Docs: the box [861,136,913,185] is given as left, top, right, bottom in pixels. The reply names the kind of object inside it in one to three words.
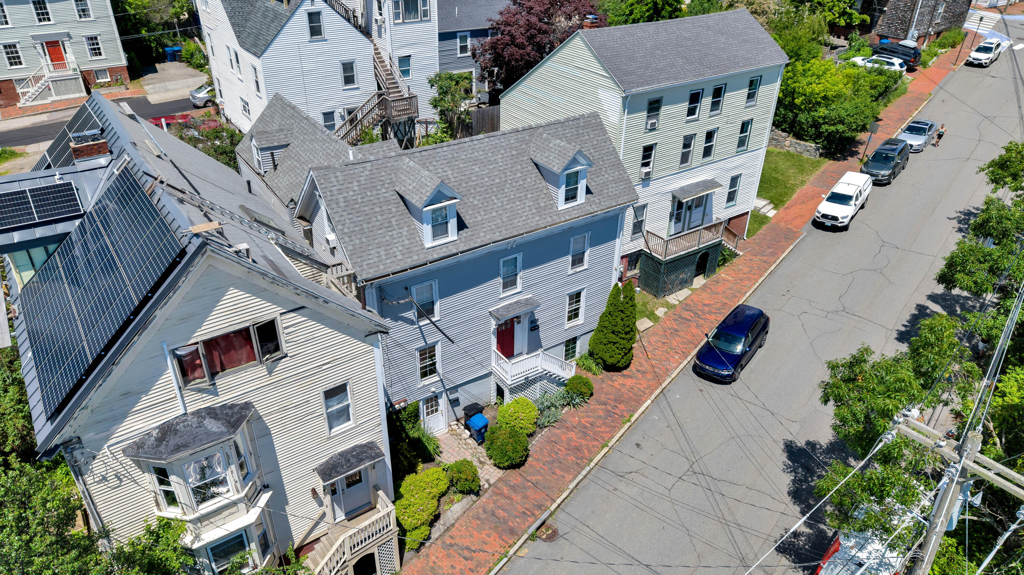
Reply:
car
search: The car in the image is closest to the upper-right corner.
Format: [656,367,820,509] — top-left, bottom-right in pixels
[966,36,1003,67]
